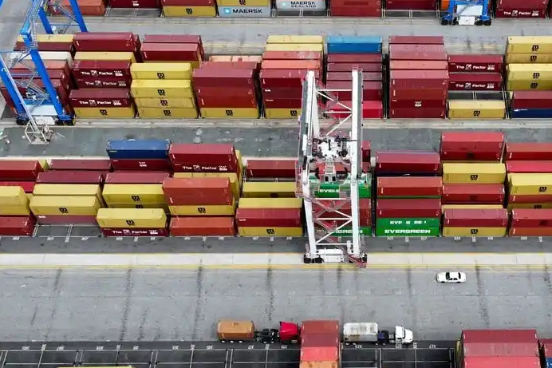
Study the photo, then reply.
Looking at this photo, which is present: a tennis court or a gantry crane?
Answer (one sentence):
Visible in the photo is a gantry crane.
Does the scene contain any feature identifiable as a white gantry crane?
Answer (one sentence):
Yes, there's a white gantry crane here.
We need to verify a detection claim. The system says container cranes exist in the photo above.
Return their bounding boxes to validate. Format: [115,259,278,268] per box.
[292,66,369,268]
[443,0,492,24]
[0,0,84,125]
